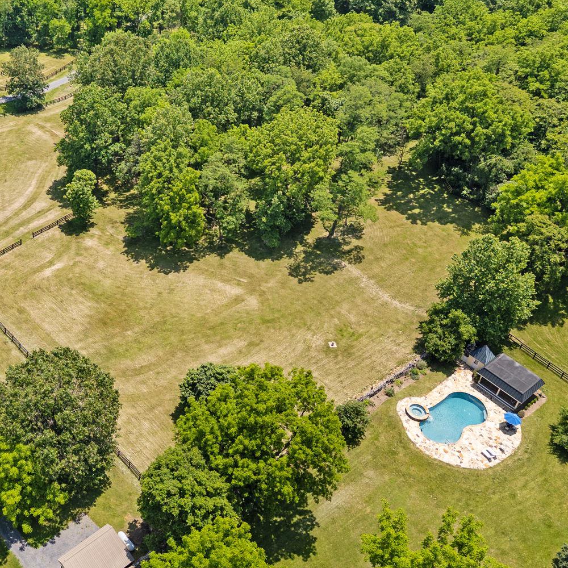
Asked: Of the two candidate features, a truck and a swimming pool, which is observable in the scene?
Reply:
swimming pool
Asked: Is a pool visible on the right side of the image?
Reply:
Yes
